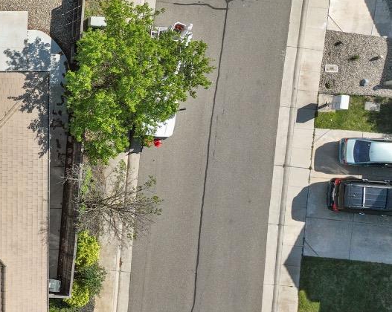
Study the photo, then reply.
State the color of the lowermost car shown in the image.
black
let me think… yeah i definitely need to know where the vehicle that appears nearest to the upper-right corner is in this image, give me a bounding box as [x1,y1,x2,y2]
[339,136,392,166]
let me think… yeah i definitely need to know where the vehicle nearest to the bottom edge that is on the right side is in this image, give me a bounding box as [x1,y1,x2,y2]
[327,179,392,216]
